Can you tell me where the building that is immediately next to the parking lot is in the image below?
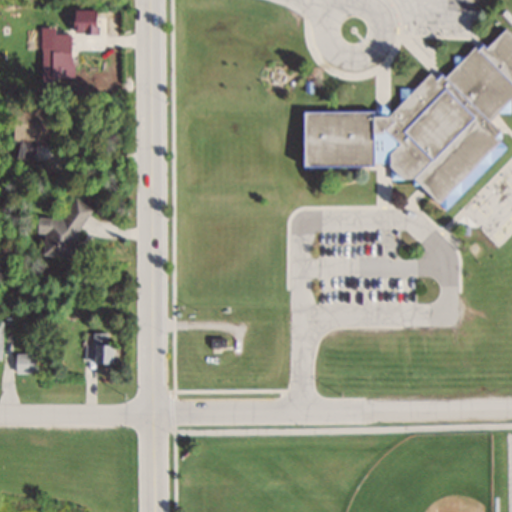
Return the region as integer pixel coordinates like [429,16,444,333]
[304,30,512,210]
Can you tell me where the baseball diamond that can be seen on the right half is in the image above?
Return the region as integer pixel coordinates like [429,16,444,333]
[346,434,494,512]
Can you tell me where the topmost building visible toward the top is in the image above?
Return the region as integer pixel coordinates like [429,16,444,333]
[74,9,98,34]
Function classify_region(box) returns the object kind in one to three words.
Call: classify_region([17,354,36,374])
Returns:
building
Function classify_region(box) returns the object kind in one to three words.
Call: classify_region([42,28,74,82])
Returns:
house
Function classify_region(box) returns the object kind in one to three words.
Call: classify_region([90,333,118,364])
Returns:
house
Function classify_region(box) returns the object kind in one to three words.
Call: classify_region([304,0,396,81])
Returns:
roundabout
